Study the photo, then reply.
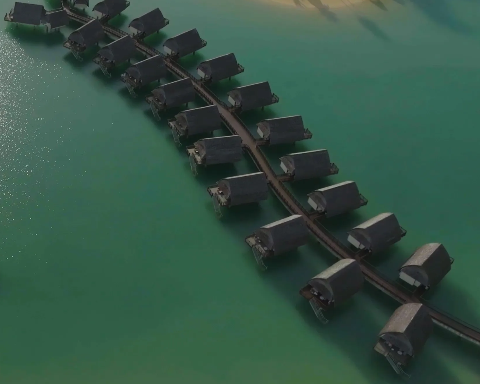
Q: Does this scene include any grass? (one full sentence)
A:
No, grass can't be seen anywhere here.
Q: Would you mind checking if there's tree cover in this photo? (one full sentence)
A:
No, the scene doesn't show any tree cover.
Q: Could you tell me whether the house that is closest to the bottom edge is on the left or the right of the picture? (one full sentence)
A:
You can find the house that is closest to the bottom edge on the right side of the picture.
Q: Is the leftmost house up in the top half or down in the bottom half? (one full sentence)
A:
The leftmost house sits in the top half of the picture.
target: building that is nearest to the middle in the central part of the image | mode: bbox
[200,170,268,214]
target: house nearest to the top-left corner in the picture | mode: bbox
[1,1,47,31]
